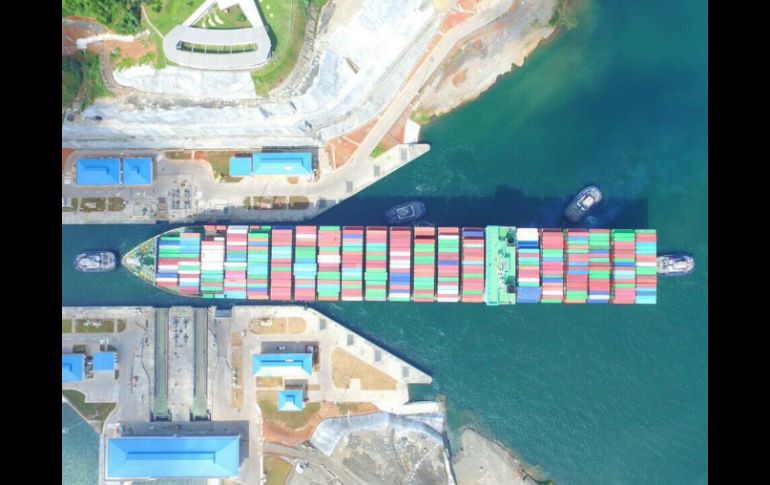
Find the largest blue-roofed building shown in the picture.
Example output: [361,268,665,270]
[107,434,242,478]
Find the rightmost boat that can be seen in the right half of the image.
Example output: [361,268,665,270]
[656,255,696,276]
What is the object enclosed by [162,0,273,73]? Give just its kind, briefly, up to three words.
building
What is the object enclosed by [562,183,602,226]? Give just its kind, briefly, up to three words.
boat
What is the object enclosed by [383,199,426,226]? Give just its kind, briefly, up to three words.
boat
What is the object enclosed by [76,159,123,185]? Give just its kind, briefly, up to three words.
building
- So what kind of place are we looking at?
port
